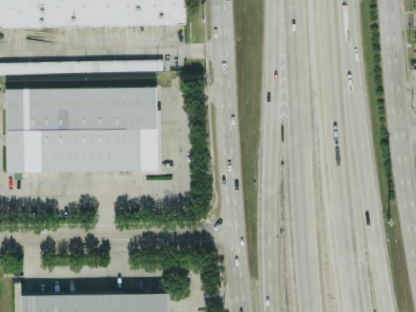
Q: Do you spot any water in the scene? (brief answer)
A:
No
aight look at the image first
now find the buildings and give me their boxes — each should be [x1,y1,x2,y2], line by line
[0,60,164,75]
[0,0,186,28]
[22,294,169,312]
[5,88,161,174]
